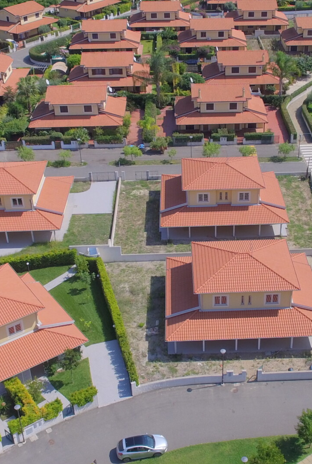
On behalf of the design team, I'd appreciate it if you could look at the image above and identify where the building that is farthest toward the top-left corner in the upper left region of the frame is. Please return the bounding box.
[0,0,63,41]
